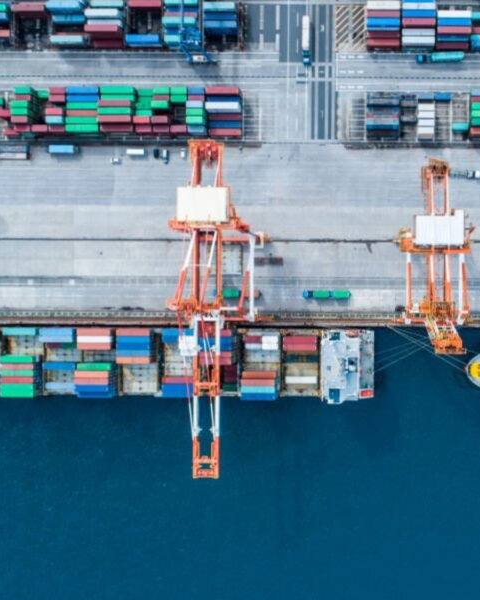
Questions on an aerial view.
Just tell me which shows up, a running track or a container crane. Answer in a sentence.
Visible in the photo is a container crane.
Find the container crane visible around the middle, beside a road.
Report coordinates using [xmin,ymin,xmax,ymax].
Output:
[156,138,271,478]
